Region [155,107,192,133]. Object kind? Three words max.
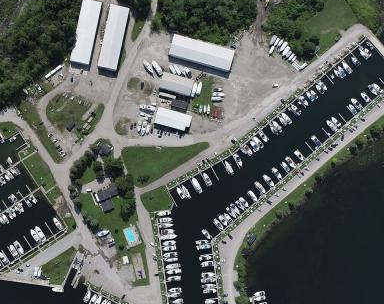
building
